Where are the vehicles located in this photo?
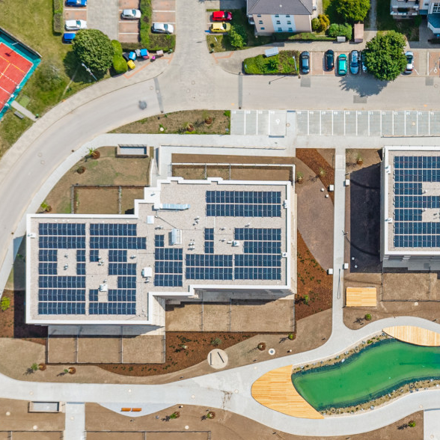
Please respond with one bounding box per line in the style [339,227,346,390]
[122,7,141,19]
[65,18,87,29]
[338,53,348,75]
[300,51,311,74]
[65,0,87,7]
[153,22,174,34]
[60,32,79,43]
[211,21,231,33]
[405,51,415,74]
[349,49,360,74]
[325,49,336,71]
[213,9,233,21]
